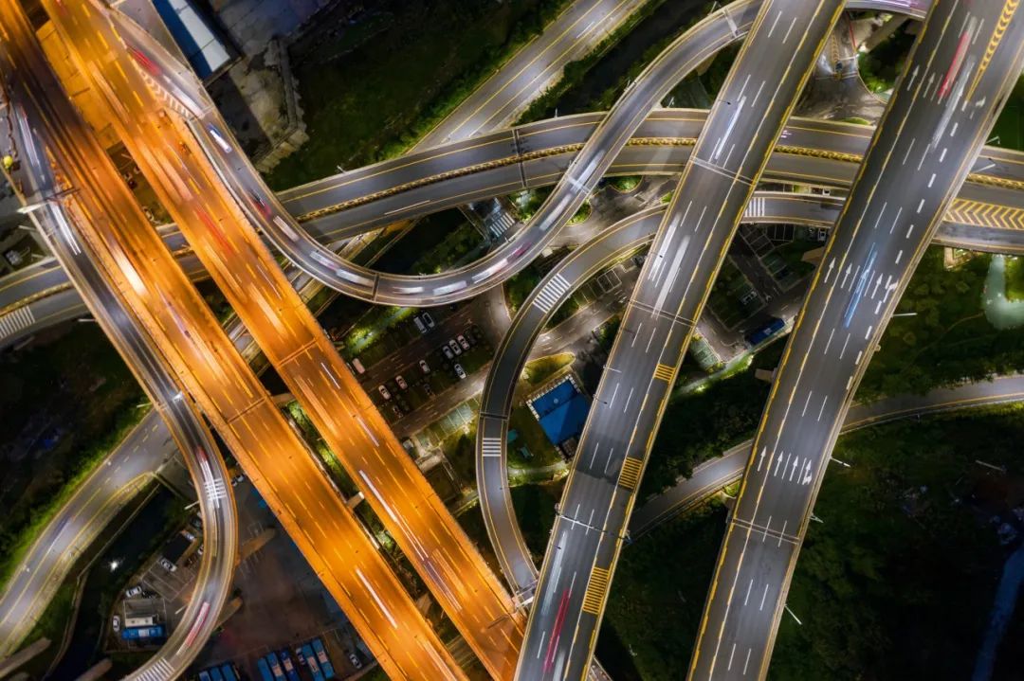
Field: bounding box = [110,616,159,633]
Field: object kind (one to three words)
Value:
vehicle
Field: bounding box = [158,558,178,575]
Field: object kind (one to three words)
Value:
car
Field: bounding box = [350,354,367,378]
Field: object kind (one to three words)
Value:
vehicle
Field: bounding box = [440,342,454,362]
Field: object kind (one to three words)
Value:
car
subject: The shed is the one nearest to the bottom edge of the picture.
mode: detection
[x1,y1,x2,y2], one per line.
[167,528,200,567]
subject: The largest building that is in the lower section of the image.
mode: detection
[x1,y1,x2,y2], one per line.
[525,373,591,465]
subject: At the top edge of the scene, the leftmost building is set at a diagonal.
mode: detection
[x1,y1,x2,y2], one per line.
[158,0,247,93]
